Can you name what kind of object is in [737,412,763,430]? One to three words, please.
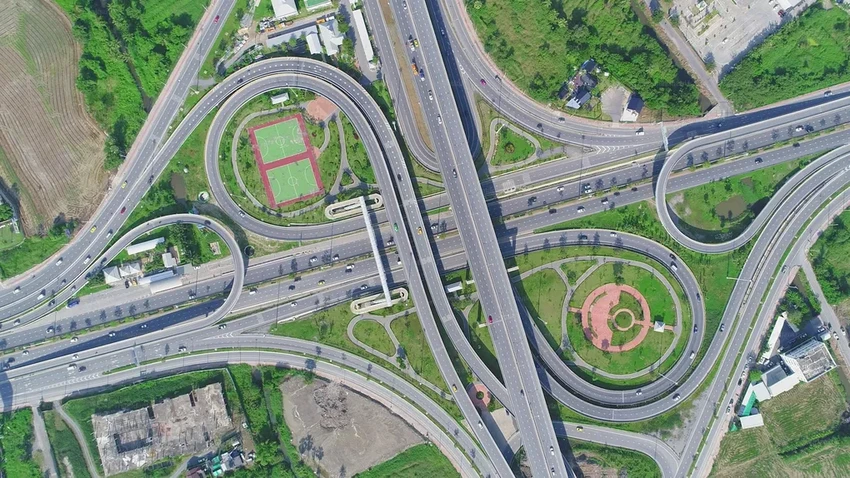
building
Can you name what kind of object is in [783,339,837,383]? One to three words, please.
building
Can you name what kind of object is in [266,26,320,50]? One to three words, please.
shed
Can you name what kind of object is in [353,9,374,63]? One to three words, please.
shed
